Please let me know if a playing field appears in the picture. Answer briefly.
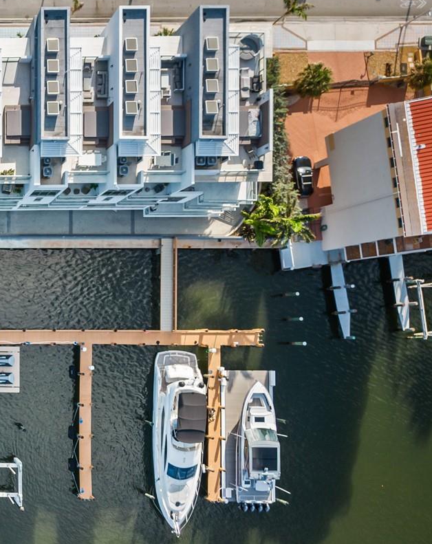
No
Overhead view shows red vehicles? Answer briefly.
No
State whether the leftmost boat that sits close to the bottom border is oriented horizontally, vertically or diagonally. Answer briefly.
vertically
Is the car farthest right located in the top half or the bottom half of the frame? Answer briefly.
top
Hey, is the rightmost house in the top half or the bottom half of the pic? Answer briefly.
top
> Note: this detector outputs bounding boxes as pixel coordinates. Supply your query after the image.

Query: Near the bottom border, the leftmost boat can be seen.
[152,349,212,541]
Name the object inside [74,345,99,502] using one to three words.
pier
